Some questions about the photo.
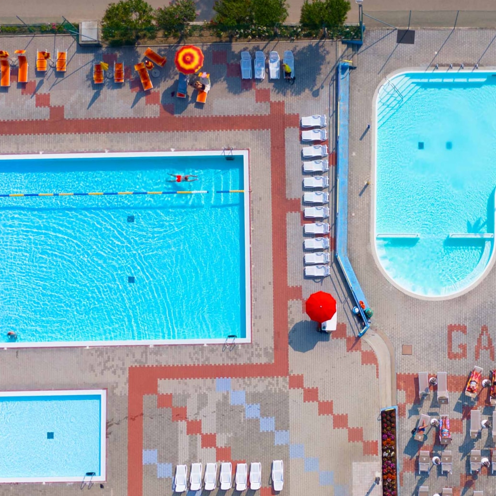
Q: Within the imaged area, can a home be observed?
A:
No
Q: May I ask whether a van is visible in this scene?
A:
No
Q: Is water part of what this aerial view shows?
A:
Yes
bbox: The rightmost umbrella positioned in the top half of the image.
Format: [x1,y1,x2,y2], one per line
[175,46,206,76]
